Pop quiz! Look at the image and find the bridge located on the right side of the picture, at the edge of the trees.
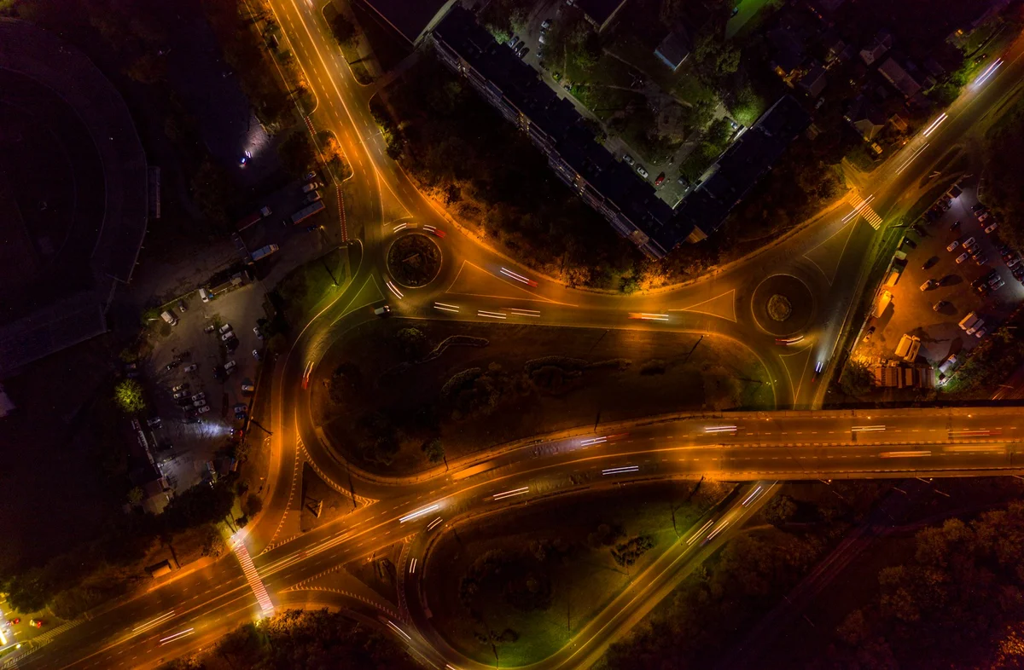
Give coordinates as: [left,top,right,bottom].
[739,409,1024,481]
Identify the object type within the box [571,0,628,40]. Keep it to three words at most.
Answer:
building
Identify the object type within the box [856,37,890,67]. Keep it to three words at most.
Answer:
house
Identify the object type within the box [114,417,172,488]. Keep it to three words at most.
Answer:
shed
